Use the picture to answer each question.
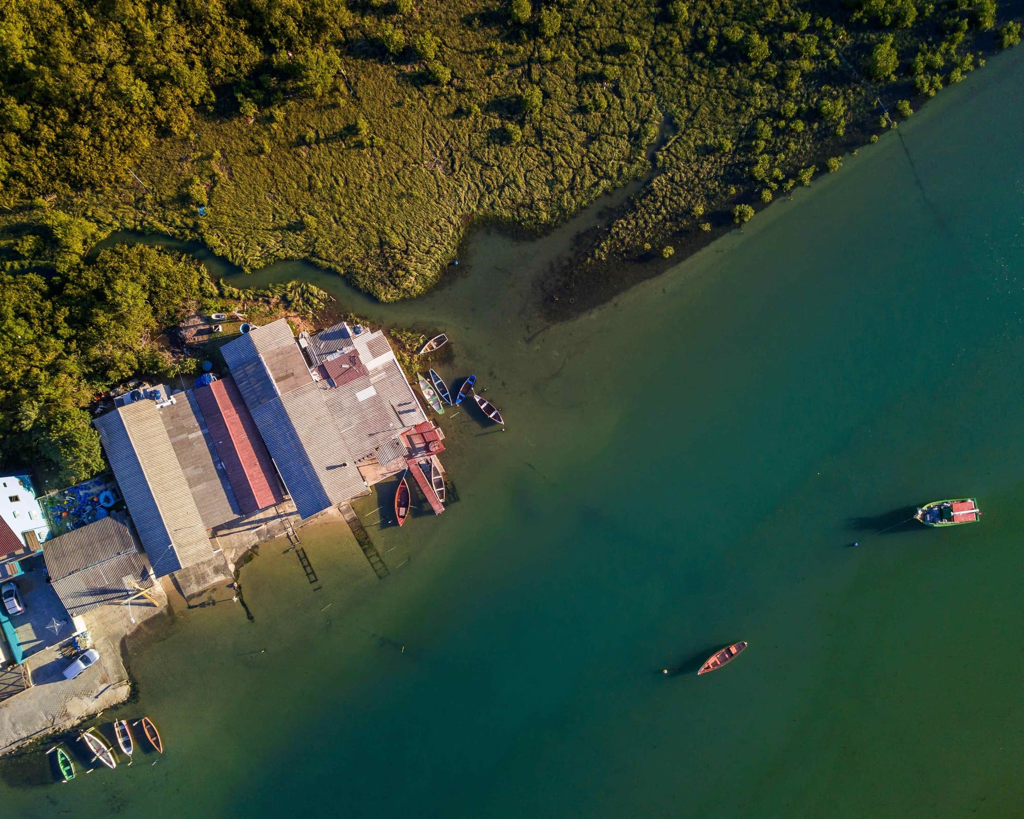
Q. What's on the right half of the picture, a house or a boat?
boat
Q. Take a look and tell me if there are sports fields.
No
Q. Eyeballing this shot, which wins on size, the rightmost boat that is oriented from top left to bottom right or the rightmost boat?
the rightmost boat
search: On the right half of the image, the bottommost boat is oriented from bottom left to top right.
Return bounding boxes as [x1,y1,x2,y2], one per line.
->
[697,640,749,675]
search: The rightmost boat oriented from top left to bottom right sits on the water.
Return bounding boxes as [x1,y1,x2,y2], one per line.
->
[475,396,504,424]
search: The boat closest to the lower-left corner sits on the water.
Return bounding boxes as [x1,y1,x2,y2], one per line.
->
[56,747,75,781]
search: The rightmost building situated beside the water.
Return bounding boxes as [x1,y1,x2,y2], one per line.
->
[308,321,430,486]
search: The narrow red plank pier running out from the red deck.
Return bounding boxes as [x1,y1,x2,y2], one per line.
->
[407,459,444,517]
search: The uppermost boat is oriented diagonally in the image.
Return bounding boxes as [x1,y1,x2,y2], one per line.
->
[420,334,447,353]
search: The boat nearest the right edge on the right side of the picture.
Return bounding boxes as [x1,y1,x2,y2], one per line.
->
[911,498,984,526]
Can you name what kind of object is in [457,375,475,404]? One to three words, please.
boat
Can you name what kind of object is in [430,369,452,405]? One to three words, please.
boat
